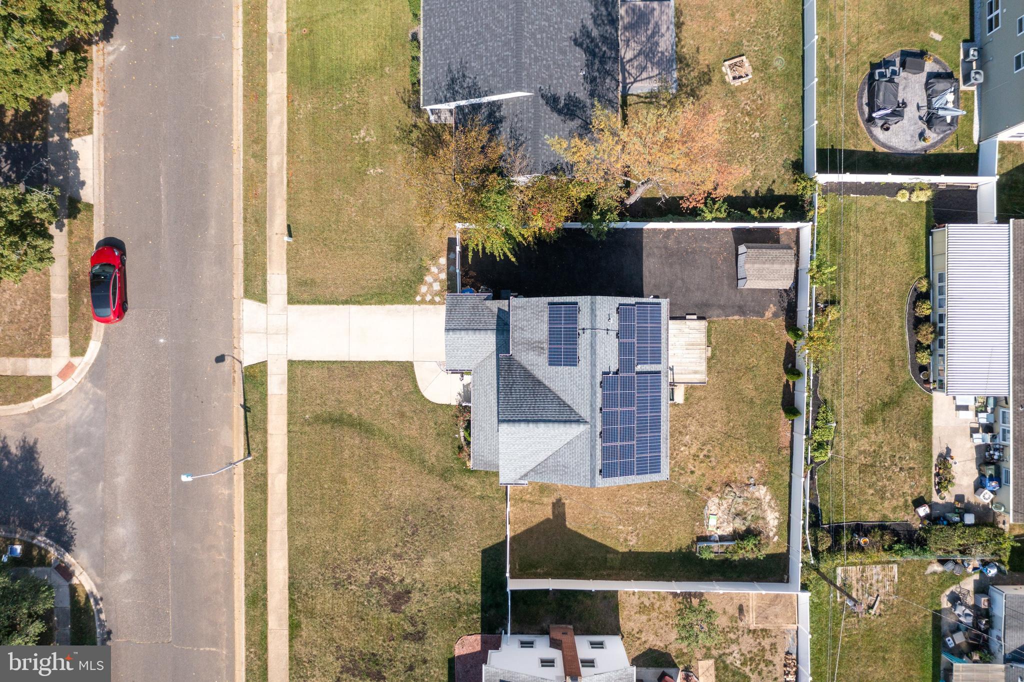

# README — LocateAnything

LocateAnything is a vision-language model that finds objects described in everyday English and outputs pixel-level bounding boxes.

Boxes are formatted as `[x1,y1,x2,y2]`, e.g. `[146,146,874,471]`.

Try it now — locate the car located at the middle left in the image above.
[87,247,132,325]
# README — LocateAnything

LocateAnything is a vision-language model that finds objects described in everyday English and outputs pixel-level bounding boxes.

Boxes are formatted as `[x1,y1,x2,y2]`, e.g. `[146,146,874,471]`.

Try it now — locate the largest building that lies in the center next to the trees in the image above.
[444,292,671,488]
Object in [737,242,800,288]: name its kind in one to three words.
shed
